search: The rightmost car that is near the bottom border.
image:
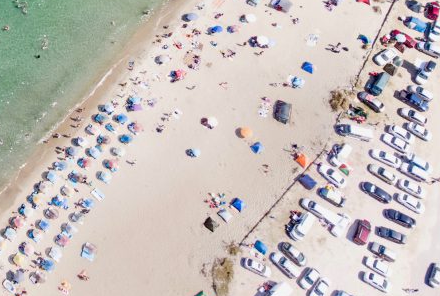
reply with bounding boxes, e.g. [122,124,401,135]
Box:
[423,259,440,290]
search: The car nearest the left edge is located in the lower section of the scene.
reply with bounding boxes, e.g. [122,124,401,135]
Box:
[242,258,271,280]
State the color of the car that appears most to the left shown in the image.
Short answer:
white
